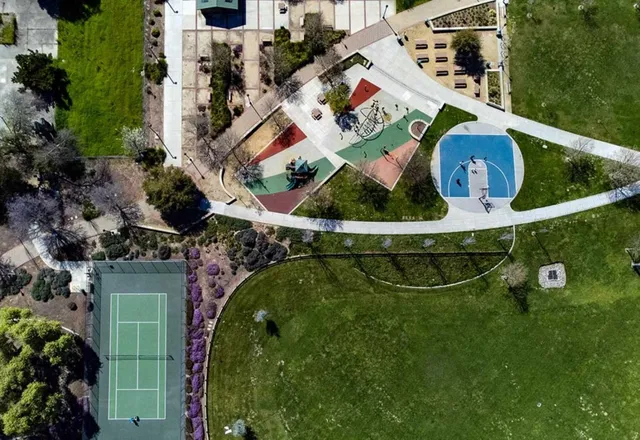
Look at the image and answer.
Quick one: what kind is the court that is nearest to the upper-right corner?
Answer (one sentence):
I'd say the court that is nearest to the upper-right corner is a basketball court.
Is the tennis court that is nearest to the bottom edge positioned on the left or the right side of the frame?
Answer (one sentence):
The tennis court that is nearest to the bottom edge is on the left side of the image.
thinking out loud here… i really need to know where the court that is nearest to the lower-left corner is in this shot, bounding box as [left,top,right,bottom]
[88,262,186,440]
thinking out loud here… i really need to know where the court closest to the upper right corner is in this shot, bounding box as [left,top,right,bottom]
[431,121,524,213]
